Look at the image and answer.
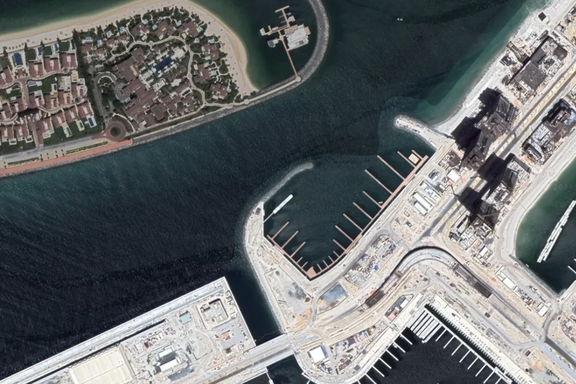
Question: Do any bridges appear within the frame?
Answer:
Yes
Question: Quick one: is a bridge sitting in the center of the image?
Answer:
No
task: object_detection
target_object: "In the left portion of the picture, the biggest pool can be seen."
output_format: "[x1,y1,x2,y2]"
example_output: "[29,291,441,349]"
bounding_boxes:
[155,55,174,70]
